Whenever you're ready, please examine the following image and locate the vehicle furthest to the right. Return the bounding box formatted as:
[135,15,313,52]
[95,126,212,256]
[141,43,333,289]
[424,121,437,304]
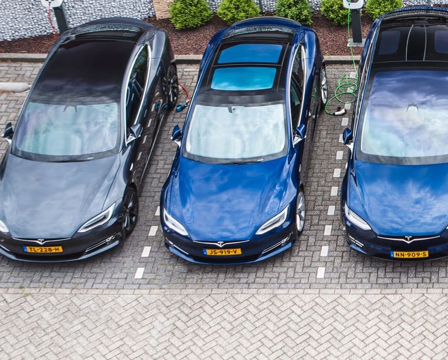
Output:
[339,3,448,264]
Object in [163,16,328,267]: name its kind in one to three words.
car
